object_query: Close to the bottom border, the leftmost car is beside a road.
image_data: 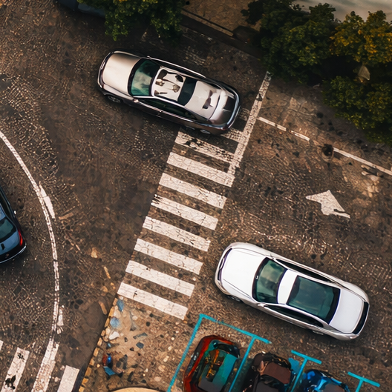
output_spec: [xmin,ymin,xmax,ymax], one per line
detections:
[164,329,241,392]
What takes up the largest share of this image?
paved ground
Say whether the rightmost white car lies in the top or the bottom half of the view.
bottom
